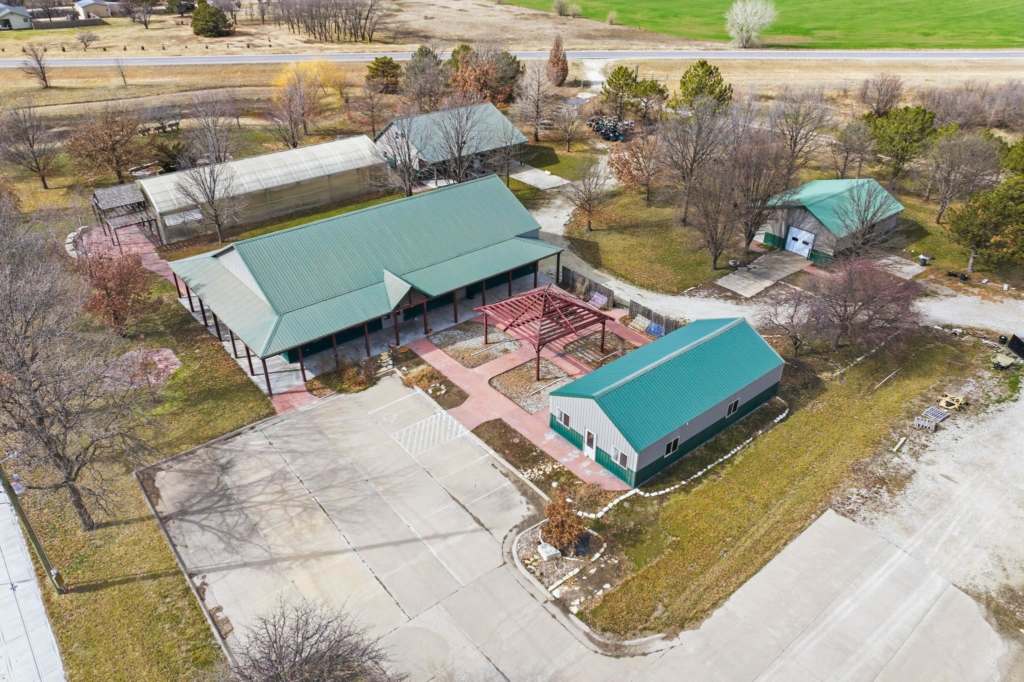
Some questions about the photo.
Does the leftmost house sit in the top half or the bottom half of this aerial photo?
top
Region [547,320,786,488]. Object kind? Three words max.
building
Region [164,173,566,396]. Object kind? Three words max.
building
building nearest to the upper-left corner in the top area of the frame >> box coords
[0,4,41,32]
